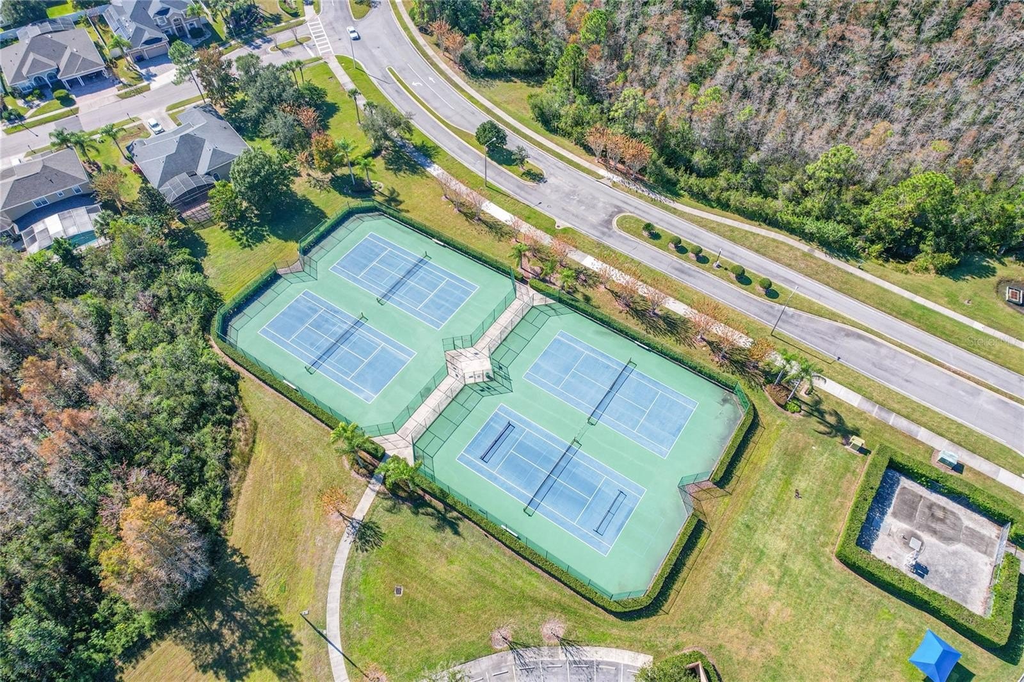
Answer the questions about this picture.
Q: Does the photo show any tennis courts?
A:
Yes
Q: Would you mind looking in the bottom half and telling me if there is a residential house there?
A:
No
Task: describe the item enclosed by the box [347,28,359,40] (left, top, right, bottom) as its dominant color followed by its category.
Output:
white vehicle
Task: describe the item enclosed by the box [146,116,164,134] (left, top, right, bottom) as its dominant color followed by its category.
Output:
white car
